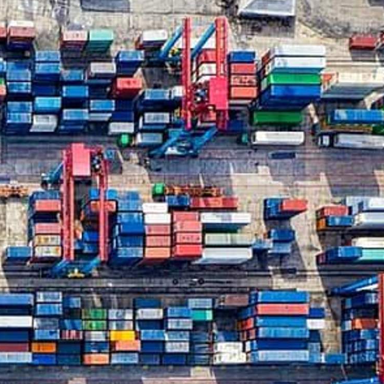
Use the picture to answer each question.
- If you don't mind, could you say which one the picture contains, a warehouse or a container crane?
container crane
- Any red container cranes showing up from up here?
Yes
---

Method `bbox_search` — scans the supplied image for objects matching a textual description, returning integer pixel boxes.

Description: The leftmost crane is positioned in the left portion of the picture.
[40,141,110,283]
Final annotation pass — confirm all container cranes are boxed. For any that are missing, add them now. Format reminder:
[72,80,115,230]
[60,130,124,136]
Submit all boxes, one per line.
[328,272,384,384]
[148,19,228,164]
[40,141,110,283]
